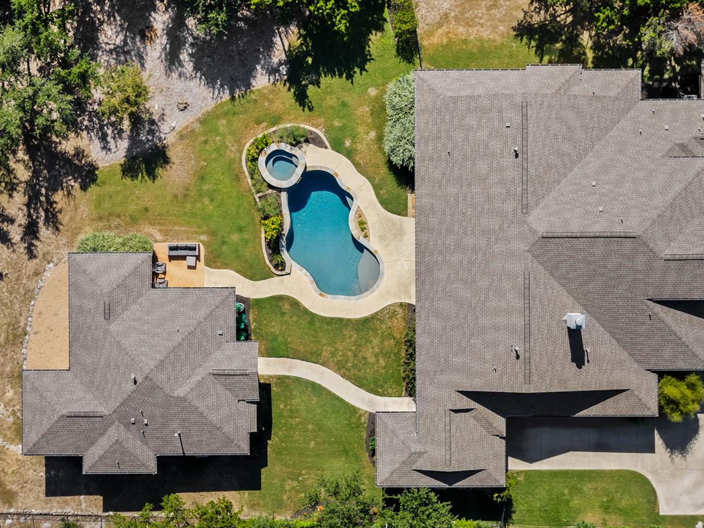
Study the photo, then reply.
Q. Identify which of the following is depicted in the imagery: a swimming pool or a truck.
swimming pool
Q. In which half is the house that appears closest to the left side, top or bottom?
bottom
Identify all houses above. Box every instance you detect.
[375,56,704,489]
[20,252,260,476]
